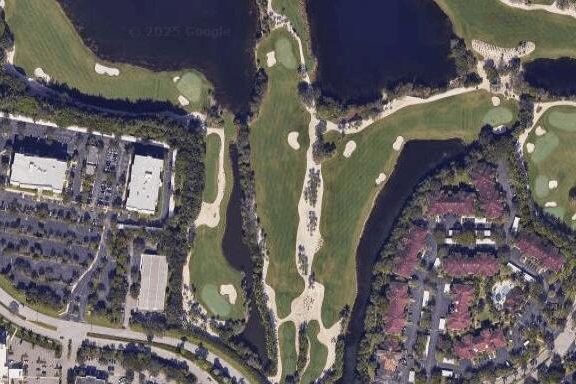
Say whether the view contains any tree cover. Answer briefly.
Yes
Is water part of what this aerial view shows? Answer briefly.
Yes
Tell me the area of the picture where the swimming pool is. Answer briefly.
bottom right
